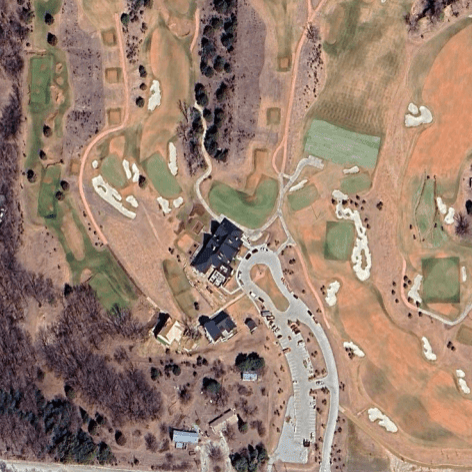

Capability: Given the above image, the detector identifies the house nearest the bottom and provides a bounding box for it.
[172,430,199,448]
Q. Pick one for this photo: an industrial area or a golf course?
golf course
